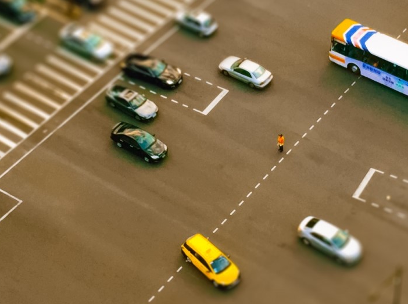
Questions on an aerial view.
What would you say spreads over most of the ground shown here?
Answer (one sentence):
For the most part, this view shows paved ground.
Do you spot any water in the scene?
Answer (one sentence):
No, there's no water in this view.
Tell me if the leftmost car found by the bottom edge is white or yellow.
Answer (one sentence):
The leftmost car found by the bottom edge is yellow.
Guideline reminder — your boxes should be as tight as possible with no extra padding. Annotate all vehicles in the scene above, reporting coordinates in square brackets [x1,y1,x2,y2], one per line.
[74,0,107,10]
[55,26,117,63]
[320,19,408,97]
[99,84,164,127]
[105,123,171,168]
[214,56,277,95]
[292,216,367,268]
[179,226,244,290]
[0,0,39,25]
[166,8,225,44]
[0,48,16,78]
[120,54,184,94]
